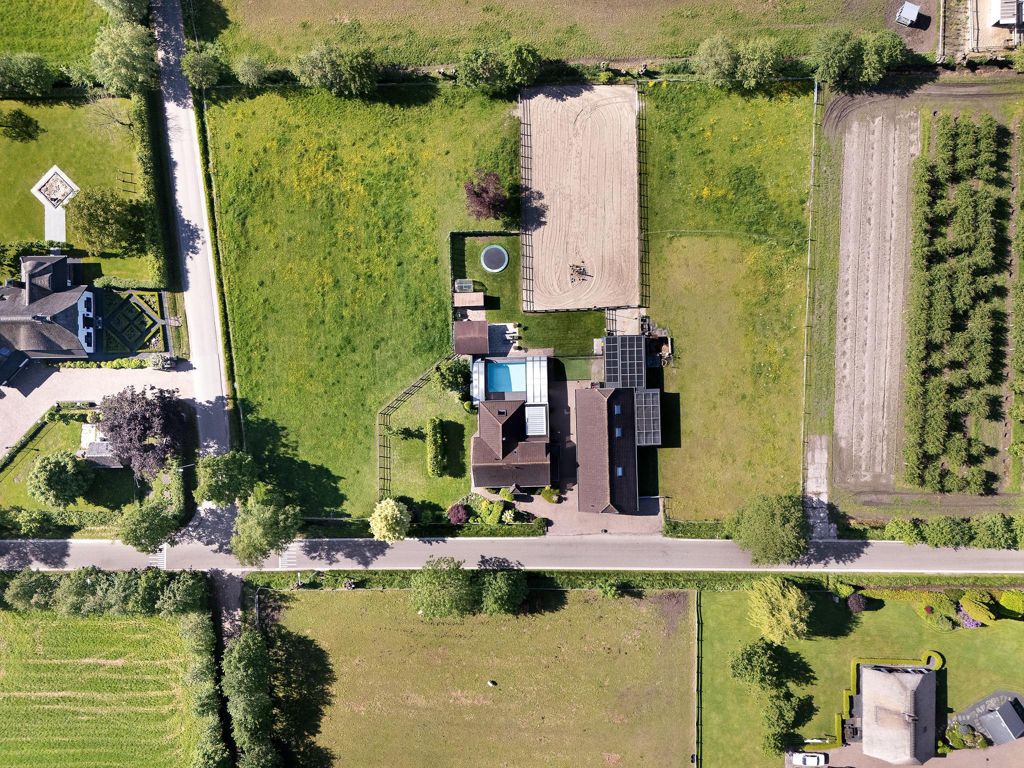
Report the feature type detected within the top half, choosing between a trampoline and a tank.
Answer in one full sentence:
You can see a trampoline within the top half.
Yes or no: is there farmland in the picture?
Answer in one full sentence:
Yes, some farmland is visible.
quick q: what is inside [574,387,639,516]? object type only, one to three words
barn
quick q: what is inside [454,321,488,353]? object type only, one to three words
shed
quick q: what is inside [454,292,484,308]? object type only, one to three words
shed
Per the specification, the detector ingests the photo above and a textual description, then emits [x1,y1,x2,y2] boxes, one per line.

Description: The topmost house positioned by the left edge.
[0,253,104,397]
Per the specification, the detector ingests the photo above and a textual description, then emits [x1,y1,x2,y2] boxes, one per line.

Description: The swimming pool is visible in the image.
[484,356,526,401]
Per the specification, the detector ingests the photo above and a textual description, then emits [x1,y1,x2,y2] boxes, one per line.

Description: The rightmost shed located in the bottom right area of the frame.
[967,690,1024,746]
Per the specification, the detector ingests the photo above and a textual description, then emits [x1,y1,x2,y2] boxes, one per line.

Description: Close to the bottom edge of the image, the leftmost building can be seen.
[855,664,935,764]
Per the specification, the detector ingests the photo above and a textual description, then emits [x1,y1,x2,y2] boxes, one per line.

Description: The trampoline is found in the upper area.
[481,245,508,272]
